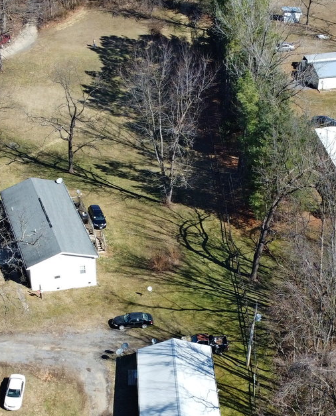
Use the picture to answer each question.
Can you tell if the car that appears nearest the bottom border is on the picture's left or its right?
left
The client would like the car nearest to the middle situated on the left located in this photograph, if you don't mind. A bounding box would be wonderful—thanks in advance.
[89,203,108,230]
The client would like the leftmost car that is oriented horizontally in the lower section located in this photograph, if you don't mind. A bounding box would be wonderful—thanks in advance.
[110,312,153,331]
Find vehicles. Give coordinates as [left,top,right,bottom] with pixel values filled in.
[184,330,236,352]
[273,42,296,51]
[110,312,153,331]
[89,203,108,230]
[0,376,21,415]
[310,114,336,127]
